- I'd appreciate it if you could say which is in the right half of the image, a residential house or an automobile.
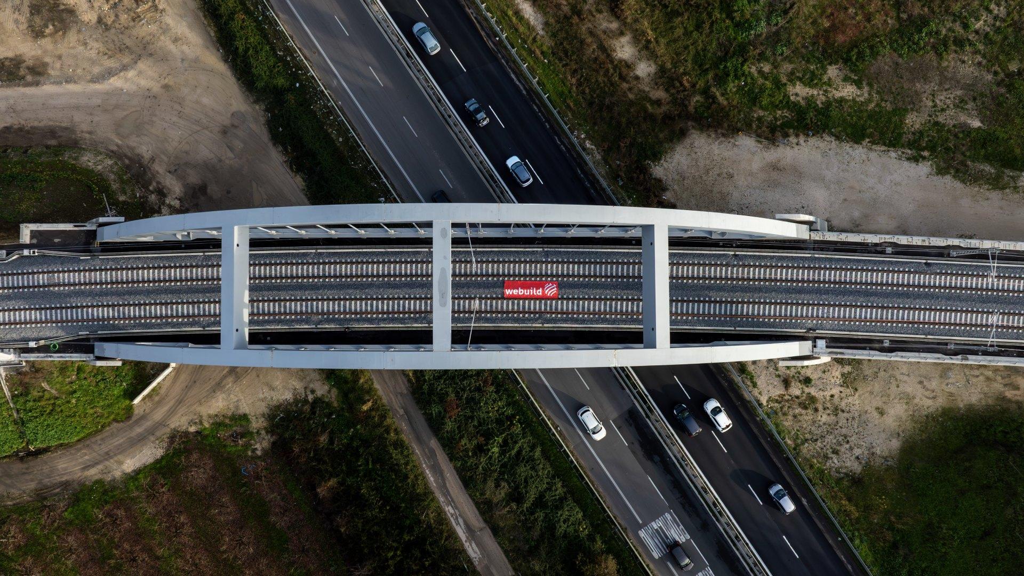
automobile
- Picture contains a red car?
No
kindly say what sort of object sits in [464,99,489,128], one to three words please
car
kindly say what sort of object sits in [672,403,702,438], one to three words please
car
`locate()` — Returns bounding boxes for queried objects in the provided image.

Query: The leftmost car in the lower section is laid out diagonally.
[576,404,606,440]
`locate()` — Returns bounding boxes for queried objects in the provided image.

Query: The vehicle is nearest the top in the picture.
[413,23,441,56]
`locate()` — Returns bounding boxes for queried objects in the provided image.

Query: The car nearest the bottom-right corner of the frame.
[767,481,797,516]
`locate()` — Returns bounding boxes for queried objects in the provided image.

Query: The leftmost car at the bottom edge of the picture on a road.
[666,539,692,571]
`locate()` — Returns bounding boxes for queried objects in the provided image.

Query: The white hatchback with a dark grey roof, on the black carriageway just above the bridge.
[506,156,533,188]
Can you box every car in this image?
[464,99,489,128]
[702,397,732,433]
[506,156,533,188]
[430,187,453,204]
[666,539,692,571]
[413,23,441,56]
[767,481,797,516]
[576,404,606,440]
[672,403,702,438]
